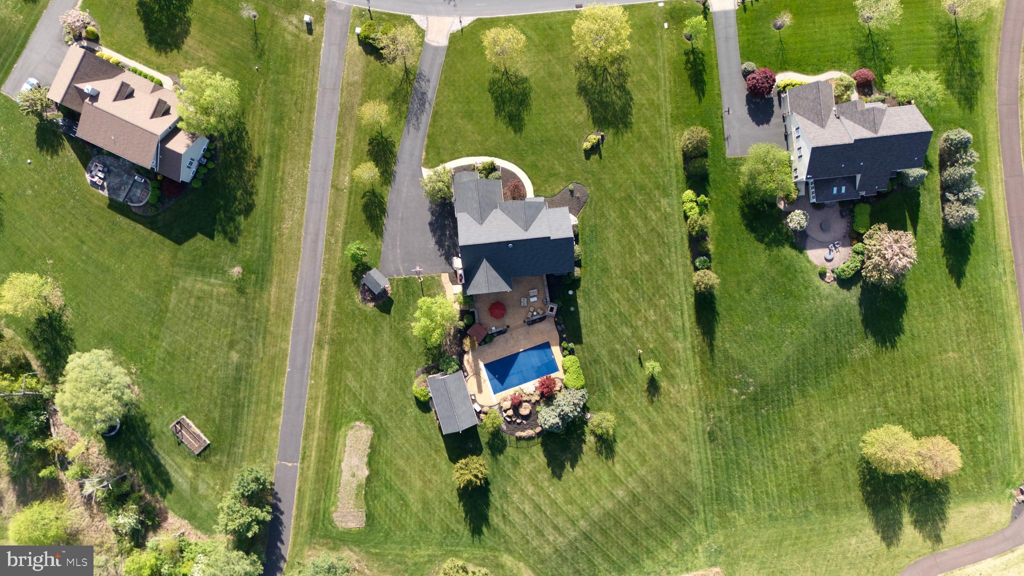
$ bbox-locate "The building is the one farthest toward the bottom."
[426,371,478,435]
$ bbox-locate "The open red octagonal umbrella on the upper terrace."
[489,302,505,319]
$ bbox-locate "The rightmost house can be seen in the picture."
[778,81,933,203]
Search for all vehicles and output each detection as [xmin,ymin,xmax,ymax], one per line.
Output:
[452,258,461,272]
[14,76,38,102]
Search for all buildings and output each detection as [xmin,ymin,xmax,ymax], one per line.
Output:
[467,323,488,343]
[778,81,933,203]
[48,45,210,183]
[450,170,575,296]
[362,267,389,295]
[426,371,478,435]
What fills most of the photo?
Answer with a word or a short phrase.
grass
